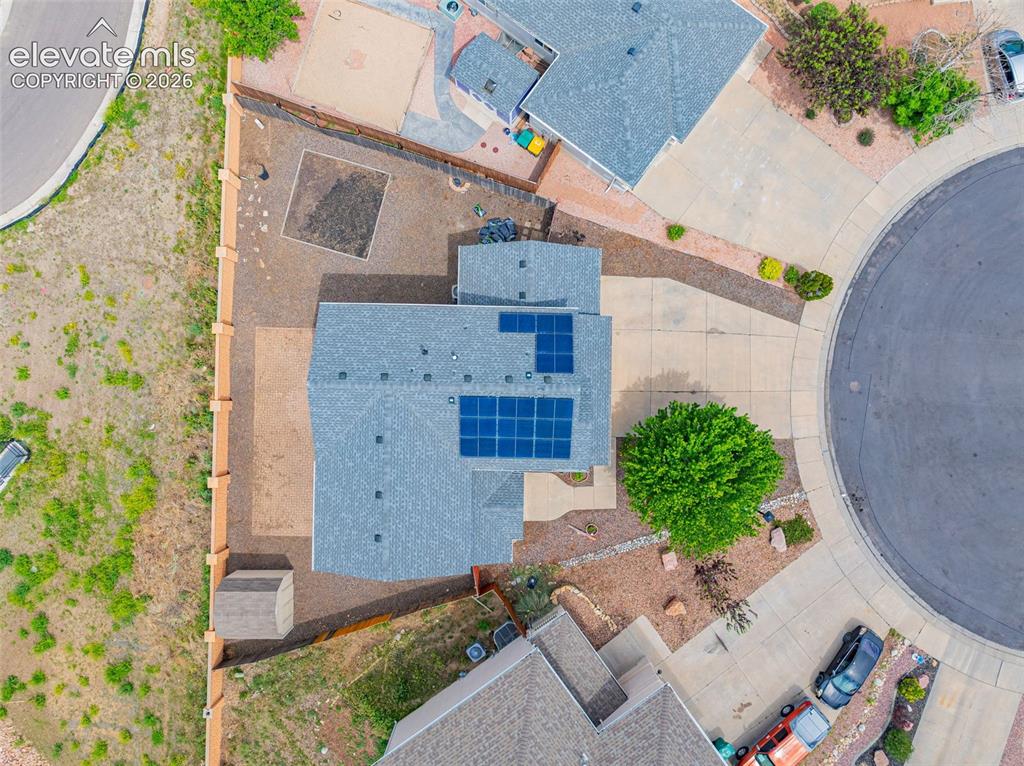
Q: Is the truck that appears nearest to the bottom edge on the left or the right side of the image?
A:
right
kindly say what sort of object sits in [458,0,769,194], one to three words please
house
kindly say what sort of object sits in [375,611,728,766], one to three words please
house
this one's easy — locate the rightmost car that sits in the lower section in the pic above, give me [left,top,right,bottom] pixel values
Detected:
[817,631,885,710]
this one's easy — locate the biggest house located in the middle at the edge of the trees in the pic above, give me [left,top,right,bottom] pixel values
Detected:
[307,240,612,580]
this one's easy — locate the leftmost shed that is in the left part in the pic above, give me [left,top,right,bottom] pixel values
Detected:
[214,571,293,639]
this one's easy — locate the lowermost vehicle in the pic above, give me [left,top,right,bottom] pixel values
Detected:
[733,698,832,766]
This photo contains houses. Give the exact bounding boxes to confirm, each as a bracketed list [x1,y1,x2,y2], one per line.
[307,240,612,580]
[375,611,728,766]
[458,0,769,194]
